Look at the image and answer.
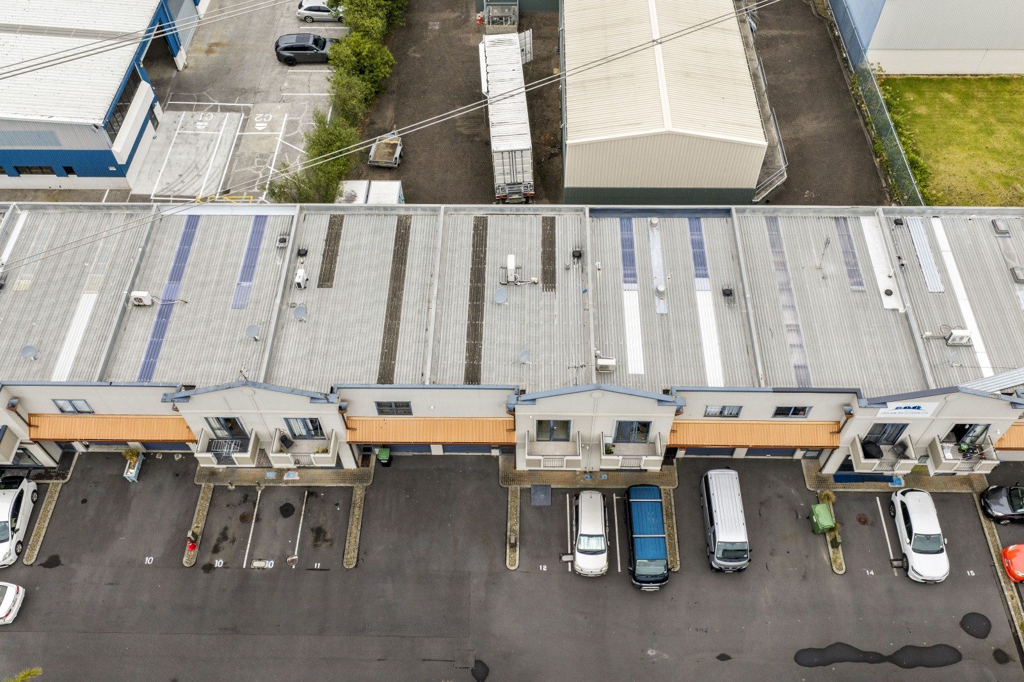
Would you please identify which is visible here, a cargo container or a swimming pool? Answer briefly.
cargo container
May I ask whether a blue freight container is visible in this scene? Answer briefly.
No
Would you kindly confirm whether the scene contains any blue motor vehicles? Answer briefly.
Yes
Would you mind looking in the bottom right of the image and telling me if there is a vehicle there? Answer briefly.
Yes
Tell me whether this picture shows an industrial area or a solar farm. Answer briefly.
industrial area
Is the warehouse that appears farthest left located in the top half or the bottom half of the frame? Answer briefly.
top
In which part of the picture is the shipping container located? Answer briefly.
top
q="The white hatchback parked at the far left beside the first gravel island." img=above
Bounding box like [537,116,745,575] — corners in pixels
[0,483,37,567]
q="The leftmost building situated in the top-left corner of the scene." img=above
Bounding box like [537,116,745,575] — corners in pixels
[0,0,196,189]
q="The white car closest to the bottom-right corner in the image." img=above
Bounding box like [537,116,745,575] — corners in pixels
[888,495,948,582]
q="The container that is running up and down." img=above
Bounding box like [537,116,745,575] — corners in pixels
[478,29,533,184]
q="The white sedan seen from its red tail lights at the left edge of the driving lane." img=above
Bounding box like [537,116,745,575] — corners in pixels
[0,586,27,627]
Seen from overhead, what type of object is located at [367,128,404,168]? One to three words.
trailer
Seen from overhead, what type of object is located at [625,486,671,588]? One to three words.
van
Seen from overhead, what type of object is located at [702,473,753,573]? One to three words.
van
